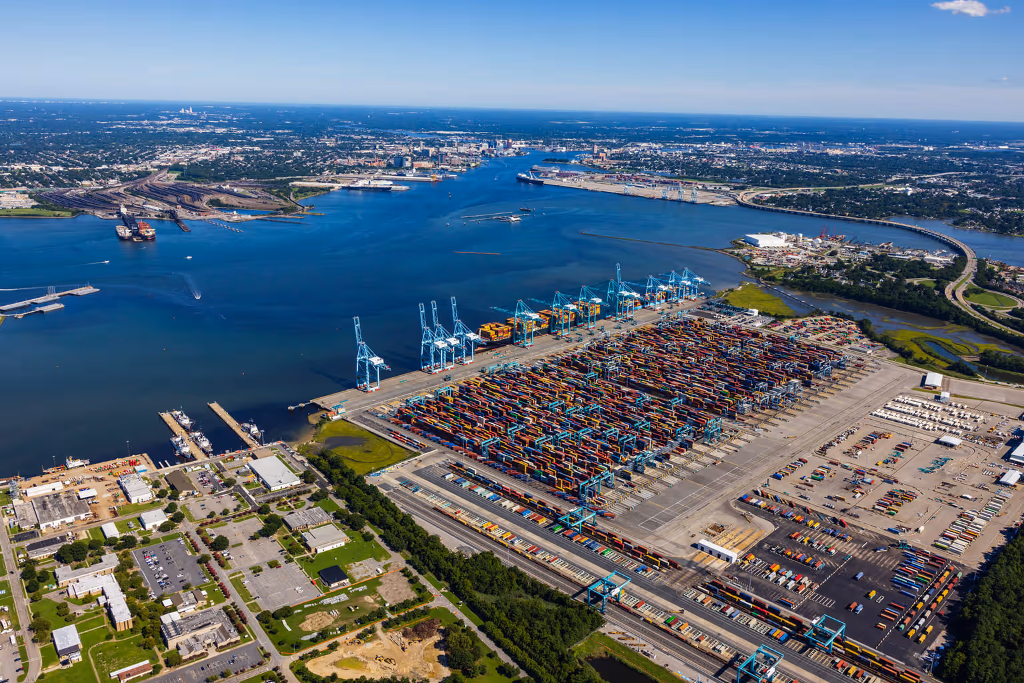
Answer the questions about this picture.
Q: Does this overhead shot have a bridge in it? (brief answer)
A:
Yes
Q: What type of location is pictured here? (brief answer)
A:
port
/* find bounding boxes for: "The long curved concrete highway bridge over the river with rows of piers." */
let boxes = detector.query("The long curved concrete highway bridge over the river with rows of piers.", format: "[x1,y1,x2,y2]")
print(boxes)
[734,197,978,268]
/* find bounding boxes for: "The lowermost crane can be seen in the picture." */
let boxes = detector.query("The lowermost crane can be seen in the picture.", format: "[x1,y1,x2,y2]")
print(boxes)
[736,642,786,683]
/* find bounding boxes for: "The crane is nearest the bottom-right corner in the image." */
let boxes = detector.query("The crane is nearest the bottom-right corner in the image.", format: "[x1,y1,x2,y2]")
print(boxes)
[802,613,847,653]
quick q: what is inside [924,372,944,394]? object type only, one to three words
shed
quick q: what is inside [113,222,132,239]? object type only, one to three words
ship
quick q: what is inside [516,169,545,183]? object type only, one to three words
ship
